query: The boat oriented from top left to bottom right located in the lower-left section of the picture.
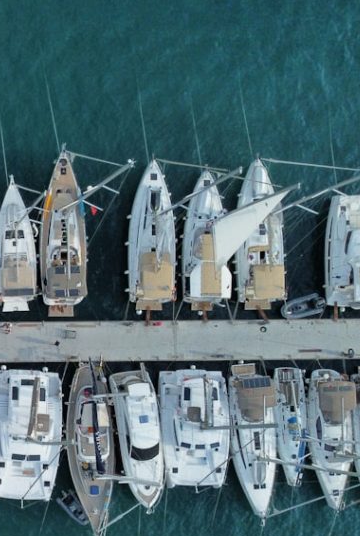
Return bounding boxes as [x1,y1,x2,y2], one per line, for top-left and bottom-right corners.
[58,490,89,524]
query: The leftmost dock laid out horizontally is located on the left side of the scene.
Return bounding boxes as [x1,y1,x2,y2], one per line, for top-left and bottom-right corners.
[0,319,178,363]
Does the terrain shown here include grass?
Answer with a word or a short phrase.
No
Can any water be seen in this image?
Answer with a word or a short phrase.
Yes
